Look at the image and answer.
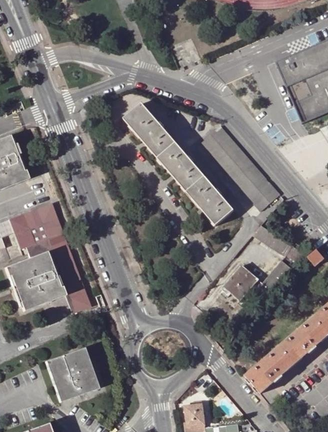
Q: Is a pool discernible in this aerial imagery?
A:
Yes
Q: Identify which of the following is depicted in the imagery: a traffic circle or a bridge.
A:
traffic circle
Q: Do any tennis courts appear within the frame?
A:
No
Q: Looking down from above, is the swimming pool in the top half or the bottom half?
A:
bottom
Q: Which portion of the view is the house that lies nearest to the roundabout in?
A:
bottom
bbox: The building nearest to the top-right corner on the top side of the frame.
[276,43,328,124]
